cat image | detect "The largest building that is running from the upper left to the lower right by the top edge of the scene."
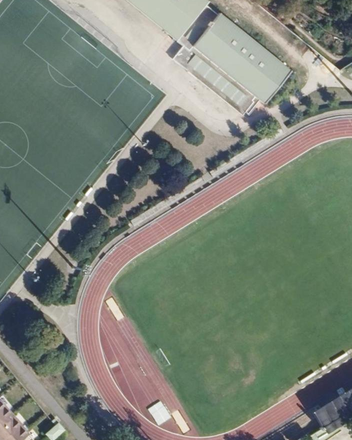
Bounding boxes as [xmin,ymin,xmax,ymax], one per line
[192,13,292,102]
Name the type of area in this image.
sports ground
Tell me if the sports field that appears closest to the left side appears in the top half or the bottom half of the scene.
top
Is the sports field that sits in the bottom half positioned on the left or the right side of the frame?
right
